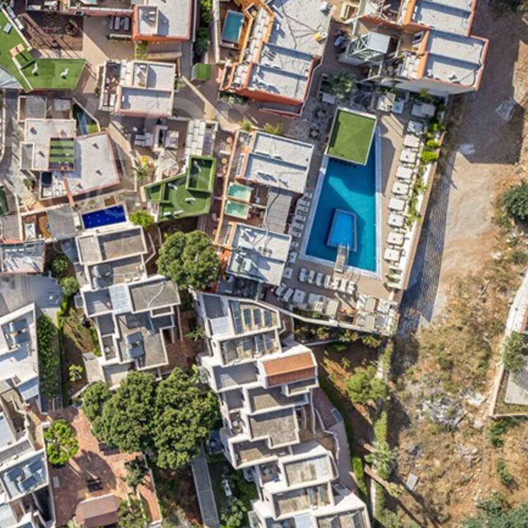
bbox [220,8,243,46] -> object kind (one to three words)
swimming pool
